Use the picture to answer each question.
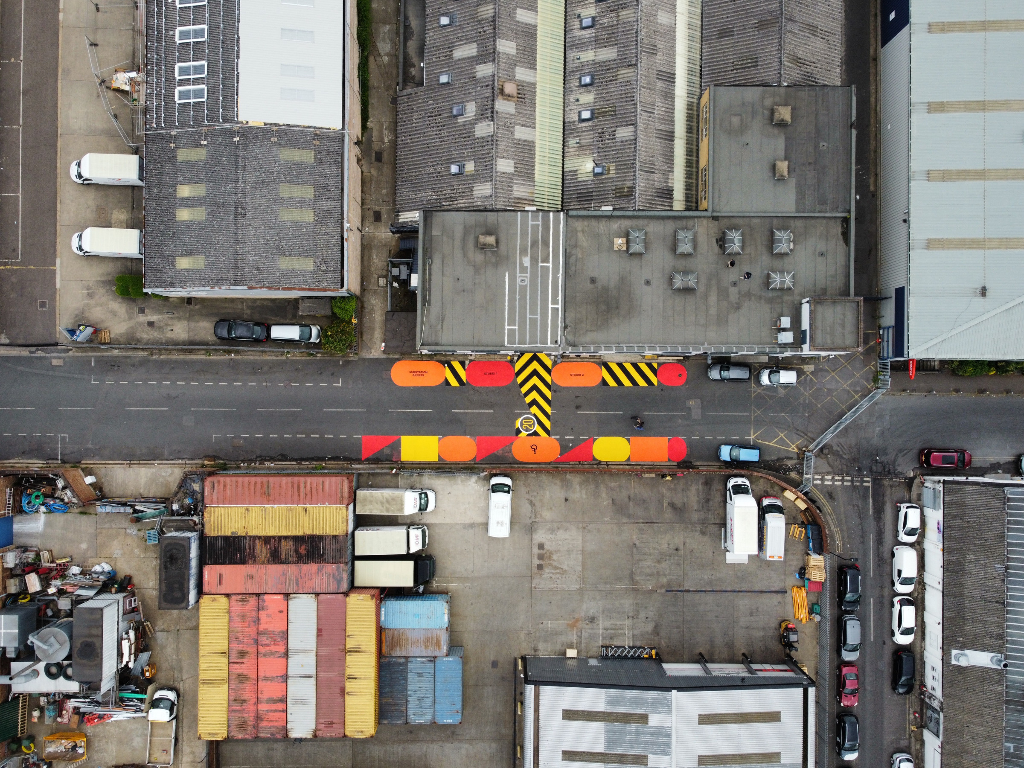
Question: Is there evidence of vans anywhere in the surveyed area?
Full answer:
Yes, there's a van down there.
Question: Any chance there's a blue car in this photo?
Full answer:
Yes, a blue car is visible in the scene.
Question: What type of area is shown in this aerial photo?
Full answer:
The area seen from above is an industrial area.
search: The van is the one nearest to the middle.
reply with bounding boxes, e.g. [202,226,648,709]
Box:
[485,474,514,540]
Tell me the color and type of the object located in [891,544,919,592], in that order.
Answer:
white van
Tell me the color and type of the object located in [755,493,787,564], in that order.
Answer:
white van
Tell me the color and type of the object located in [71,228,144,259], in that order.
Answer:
white vehicle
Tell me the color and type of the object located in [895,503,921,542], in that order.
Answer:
white car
